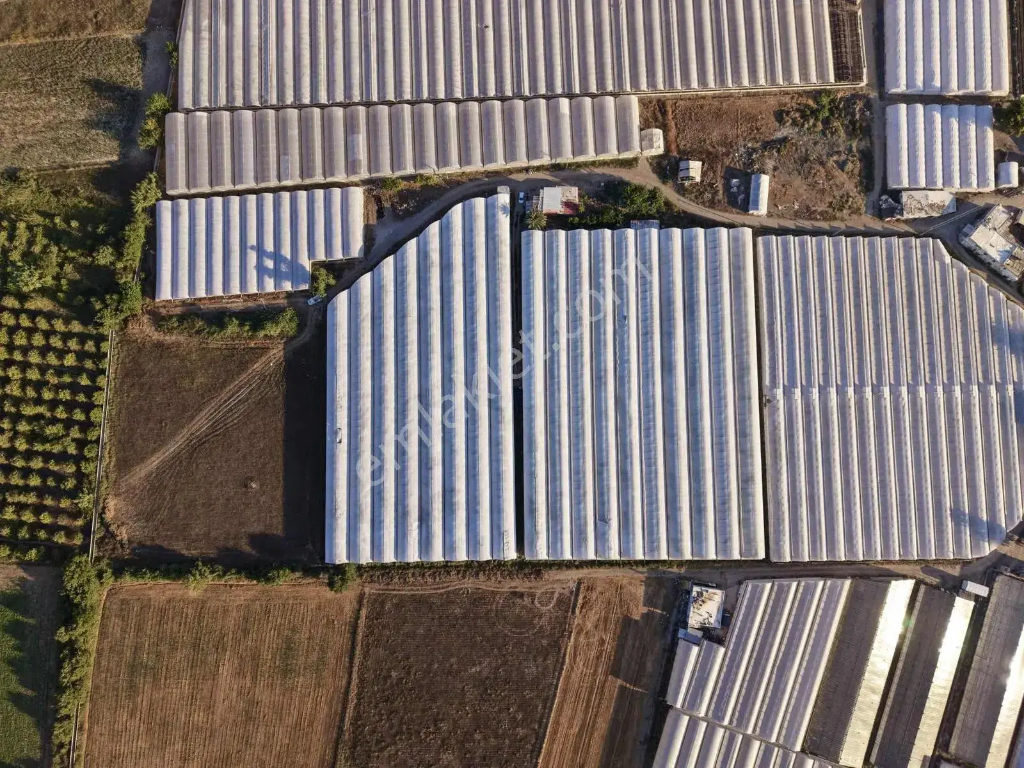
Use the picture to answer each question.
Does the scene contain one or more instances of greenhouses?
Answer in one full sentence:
Yes, the frame does contain a greenhouse.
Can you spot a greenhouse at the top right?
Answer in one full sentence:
Yes, a greenhouse can be seen at the top right.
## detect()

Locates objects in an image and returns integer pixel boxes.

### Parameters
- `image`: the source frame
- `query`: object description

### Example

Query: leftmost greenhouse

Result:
[155,185,366,302]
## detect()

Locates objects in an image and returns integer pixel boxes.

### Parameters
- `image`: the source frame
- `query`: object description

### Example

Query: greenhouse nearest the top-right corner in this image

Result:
[879,0,1009,99]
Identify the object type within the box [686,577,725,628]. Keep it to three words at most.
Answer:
house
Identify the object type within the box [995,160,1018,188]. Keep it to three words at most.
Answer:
greenhouse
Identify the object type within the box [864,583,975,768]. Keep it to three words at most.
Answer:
shed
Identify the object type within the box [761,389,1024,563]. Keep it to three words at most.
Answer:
greenhouse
